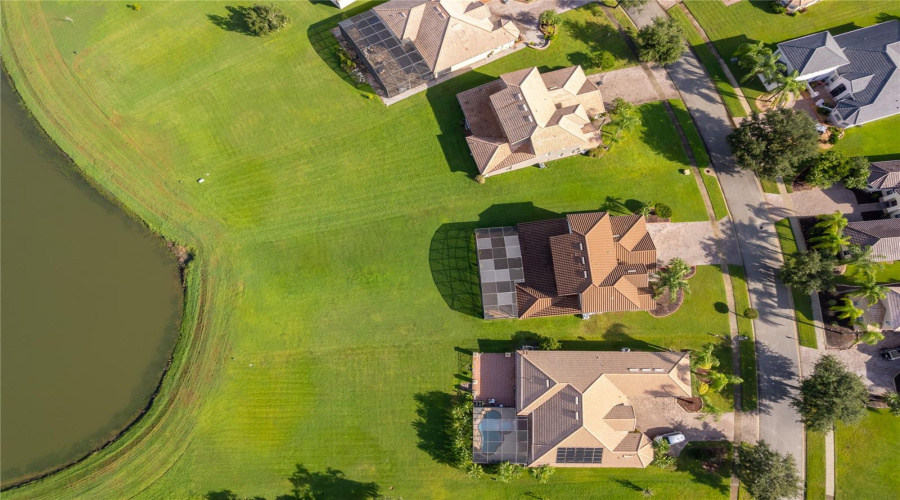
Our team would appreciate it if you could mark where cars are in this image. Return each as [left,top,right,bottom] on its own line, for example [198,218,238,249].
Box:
[879,346,900,360]
[653,431,686,446]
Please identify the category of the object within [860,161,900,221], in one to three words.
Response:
house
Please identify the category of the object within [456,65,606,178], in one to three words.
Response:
house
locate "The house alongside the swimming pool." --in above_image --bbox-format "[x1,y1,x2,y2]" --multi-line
[516,350,693,467]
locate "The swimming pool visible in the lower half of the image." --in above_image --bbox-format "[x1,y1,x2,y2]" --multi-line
[477,409,516,452]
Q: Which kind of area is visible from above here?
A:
residential area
